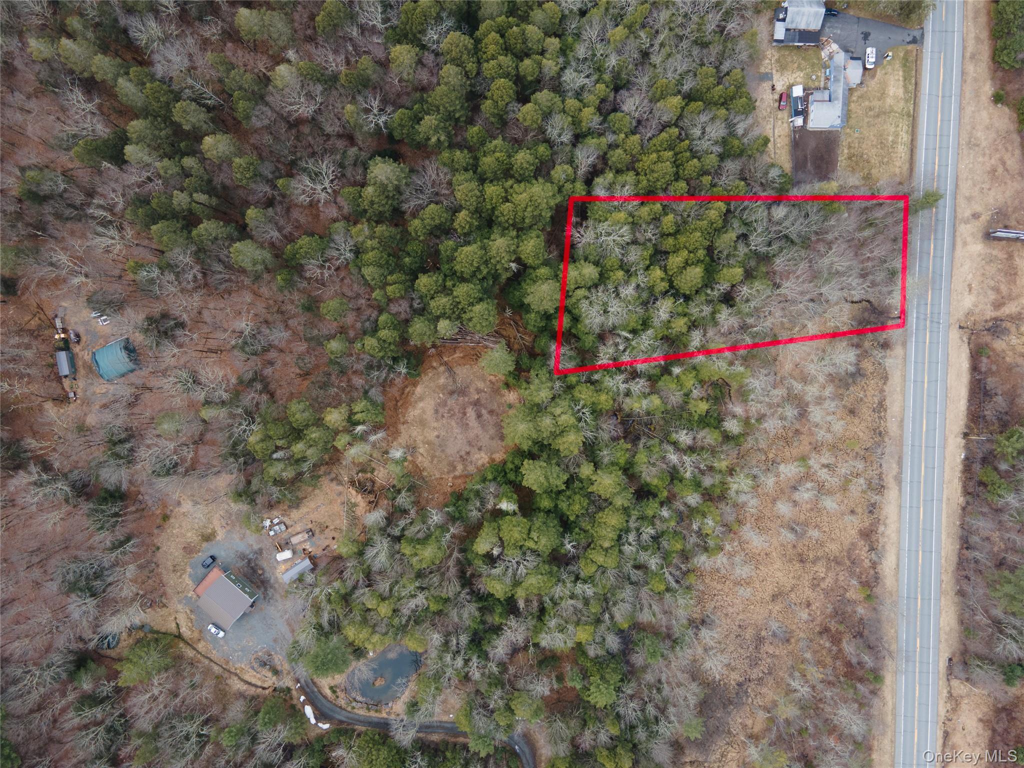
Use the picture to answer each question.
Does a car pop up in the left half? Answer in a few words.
Yes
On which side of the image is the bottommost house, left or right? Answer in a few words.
left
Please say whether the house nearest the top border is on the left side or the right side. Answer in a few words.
right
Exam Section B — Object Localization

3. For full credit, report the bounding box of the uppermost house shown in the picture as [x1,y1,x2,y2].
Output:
[772,0,826,46]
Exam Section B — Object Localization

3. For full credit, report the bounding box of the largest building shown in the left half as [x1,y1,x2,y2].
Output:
[198,570,259,630]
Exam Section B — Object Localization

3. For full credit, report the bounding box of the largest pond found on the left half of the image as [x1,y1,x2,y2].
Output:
[347,645,421,703]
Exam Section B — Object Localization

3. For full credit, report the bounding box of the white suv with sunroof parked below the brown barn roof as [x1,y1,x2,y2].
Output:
[207,622,226,638]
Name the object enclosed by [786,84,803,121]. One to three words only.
shed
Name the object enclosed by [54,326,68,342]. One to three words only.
work vehicle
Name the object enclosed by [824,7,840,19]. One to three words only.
vehicle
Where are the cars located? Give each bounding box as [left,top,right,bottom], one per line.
[207,622,226,638]
[200,553,219,569]
[864,47,875,69]
[777,93,786,111]
[824,7,840,19]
